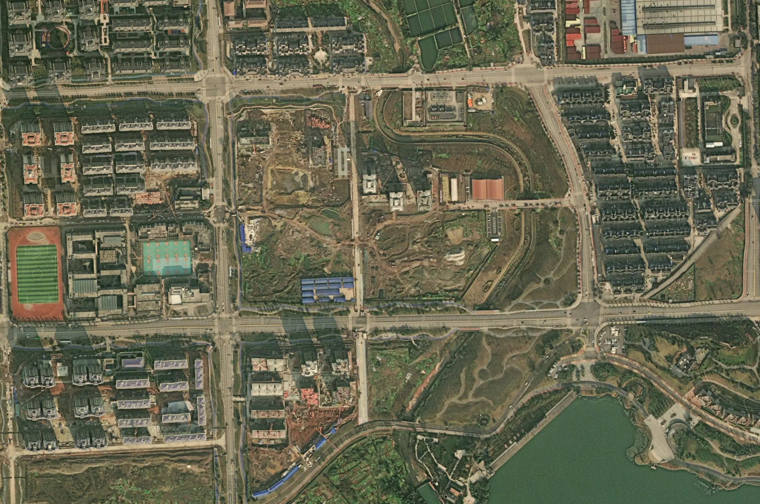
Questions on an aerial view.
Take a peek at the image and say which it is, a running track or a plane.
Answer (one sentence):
Of the two, only a running track appears.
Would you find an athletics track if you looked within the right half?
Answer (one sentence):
No, no athletics track appears within the right half.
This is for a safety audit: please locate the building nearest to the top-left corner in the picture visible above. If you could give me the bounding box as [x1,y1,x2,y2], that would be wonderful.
[9,1,32,24]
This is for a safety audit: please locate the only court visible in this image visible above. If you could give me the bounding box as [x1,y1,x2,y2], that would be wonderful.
[143,239,191,276]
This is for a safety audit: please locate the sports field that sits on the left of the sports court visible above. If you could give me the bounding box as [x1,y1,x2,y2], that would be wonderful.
[16,246,58,304]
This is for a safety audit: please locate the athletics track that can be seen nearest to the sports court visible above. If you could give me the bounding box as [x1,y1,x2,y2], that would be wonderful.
[8,226,66,321]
